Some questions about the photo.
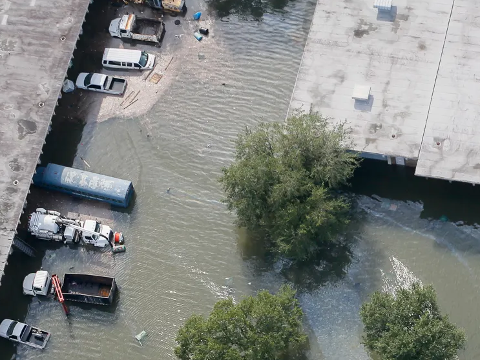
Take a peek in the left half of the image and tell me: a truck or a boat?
truck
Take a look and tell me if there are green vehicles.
No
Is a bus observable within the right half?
No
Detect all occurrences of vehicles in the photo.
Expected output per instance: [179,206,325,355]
[106,14,166,45]
[74,70,132,97]
[0,319,54,351]
[20,269,119,312]
[33,166,137,210]
[27,206,115,254]
[115,0,187,21]
[101,48,158,72]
